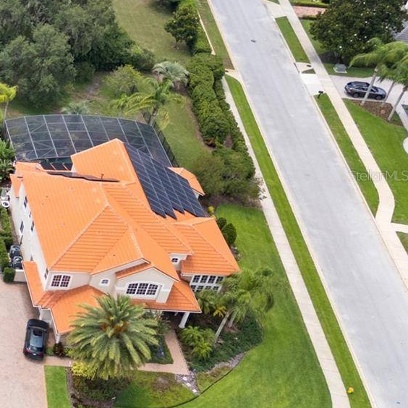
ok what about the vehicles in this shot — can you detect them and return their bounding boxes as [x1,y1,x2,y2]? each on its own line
[24,318,52,362]
[342,76,387,97]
